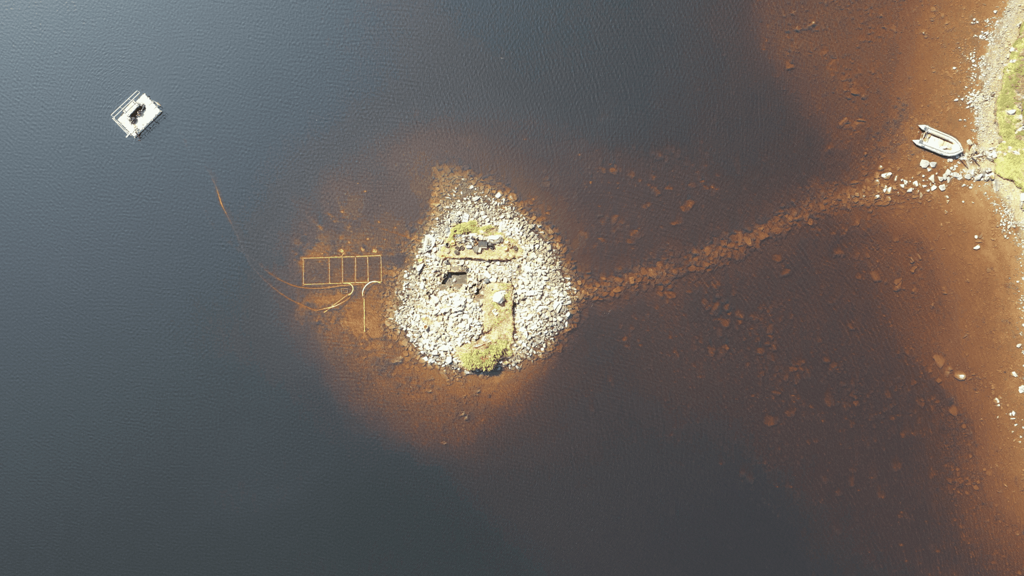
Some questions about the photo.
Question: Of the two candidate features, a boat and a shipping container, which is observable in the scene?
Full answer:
Of the two, only a boat appears.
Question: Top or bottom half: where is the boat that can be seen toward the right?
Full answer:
The boat that can be seen toward the right sits in the top half of the picture.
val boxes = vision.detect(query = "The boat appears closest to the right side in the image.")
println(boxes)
[912,124,965,156]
